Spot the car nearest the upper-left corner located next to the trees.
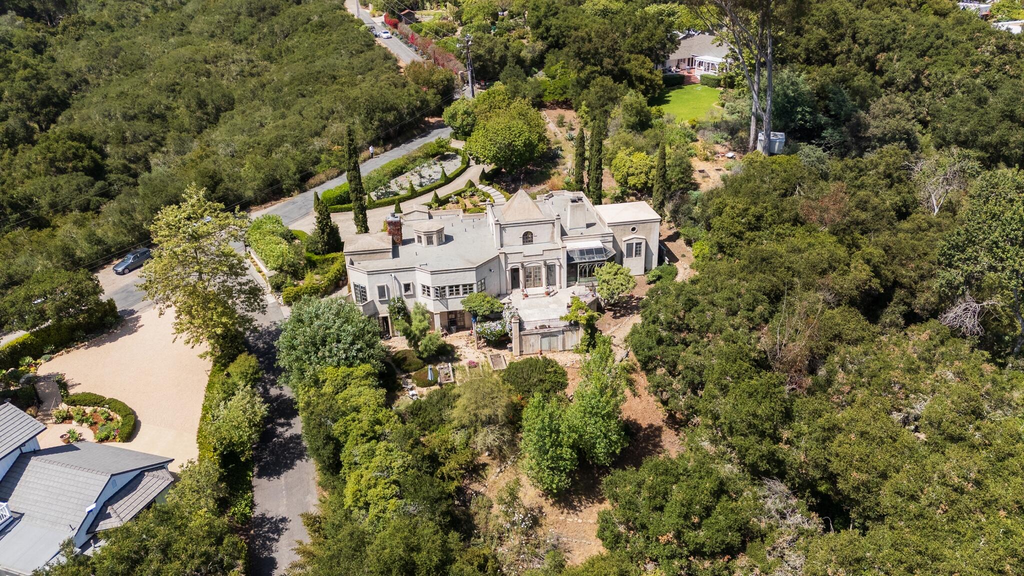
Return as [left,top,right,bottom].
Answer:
[105,246,158,276]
